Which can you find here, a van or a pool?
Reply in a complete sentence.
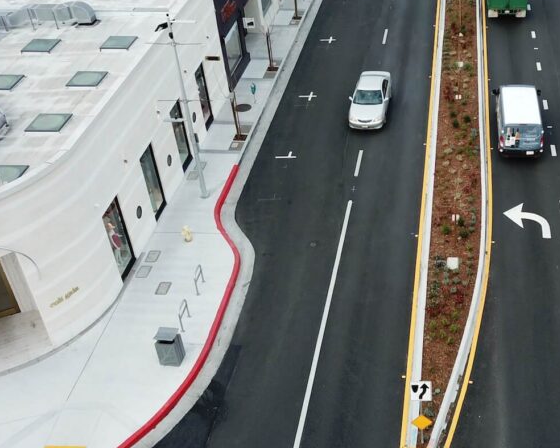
Of the two, only a van appears.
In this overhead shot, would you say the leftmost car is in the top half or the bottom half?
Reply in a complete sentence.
The top half of the photo is where the leftmost car is.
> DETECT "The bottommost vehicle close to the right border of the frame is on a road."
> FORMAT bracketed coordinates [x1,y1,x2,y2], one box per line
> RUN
[494,85,545,158]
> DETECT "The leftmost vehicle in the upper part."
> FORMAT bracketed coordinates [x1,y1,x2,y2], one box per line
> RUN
[347,69,393,128]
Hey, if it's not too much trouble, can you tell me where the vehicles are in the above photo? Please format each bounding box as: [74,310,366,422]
[487,0,529,20]
[347,69,393,128]
[494,85,545,158]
